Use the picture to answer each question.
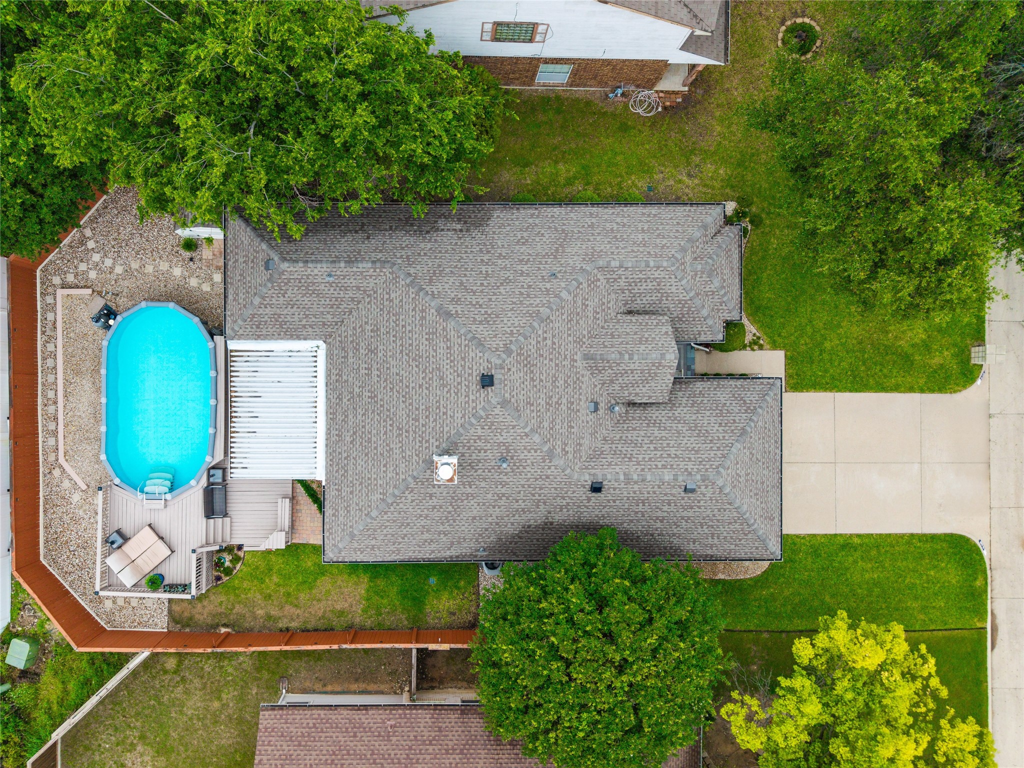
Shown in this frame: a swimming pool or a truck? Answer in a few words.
swimming pool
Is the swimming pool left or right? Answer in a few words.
left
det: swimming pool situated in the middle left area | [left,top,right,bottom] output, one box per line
[100,301,217,499]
